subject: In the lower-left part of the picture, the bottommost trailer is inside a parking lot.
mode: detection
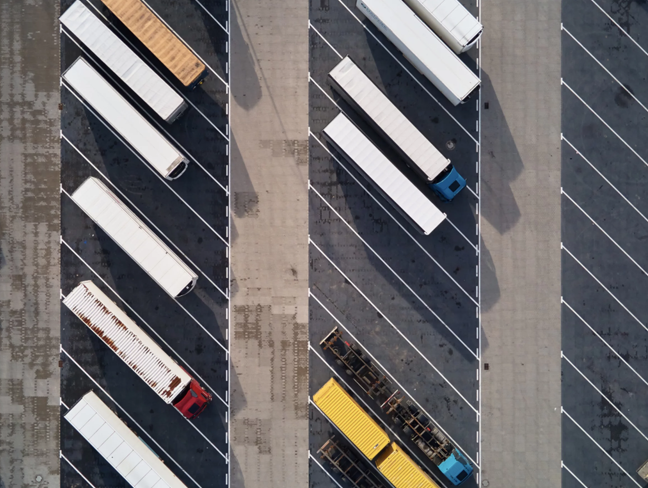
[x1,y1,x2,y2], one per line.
[64,391,186,488]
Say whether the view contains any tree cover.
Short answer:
No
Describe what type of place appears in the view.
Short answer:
parking lot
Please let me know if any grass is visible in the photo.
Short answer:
No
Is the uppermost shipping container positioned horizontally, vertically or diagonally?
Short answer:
diagonally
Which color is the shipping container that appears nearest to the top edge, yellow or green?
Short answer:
yellow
